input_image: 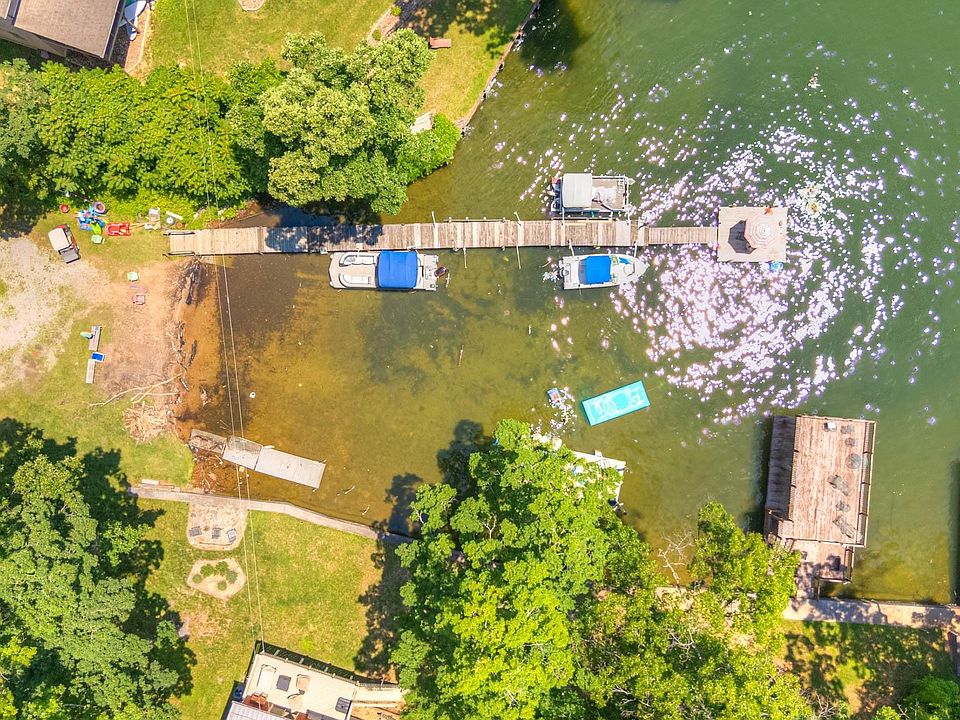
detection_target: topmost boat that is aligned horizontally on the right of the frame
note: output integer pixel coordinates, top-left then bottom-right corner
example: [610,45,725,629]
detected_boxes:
[546,173,640,217]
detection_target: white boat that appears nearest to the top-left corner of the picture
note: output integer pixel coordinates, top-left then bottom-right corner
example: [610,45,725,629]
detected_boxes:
[329,249,448,292]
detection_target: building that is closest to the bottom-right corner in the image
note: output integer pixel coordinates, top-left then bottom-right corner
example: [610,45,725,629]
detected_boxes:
[751,412,878,566]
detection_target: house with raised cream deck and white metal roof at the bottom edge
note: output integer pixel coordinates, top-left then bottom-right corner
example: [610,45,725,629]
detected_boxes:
[225,646,411,720]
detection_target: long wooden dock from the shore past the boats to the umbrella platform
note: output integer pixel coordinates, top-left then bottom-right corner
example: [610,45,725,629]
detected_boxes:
[161,205,787,266]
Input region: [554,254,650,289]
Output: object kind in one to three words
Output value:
boat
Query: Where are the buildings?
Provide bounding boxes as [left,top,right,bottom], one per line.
[751,412,878,566]
[0,0,123,86]
[225,646,411,720]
